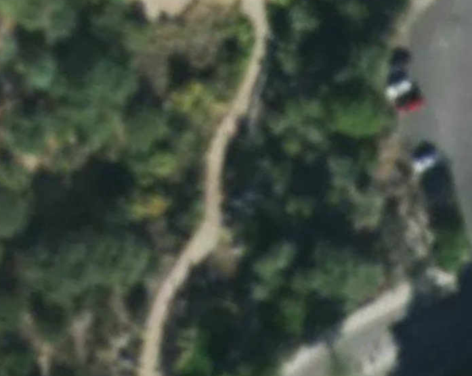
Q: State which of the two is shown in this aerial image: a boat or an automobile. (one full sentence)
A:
Looking from above, you can make out an automobile.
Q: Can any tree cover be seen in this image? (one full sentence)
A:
Yes, there is tree cover in the image.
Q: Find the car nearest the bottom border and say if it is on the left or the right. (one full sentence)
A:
It is on the right.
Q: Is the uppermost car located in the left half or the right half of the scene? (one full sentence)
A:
You can find the uppermost car on the right side of the picture.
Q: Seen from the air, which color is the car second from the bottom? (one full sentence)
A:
The car second from the bottom looks red in the image.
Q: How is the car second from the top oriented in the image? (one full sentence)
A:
I'd say the car second from the top is aligned diagonally in the picture.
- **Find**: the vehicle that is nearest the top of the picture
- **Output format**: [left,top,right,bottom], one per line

[388,48,416,70]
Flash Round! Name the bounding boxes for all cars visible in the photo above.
[385,77,414,101]
[388,48,416,70]
[395,94,425,116]
[411,151,439,173]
